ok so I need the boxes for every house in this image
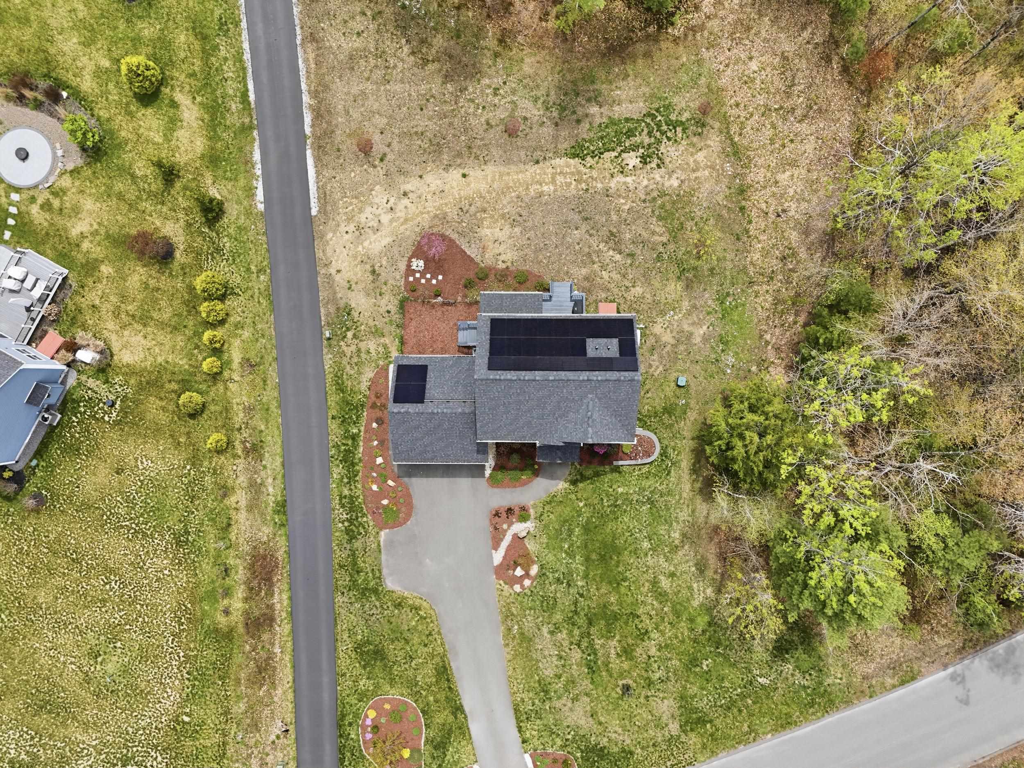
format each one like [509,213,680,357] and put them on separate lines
[391,290,645,464]
[0,335,65,464]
